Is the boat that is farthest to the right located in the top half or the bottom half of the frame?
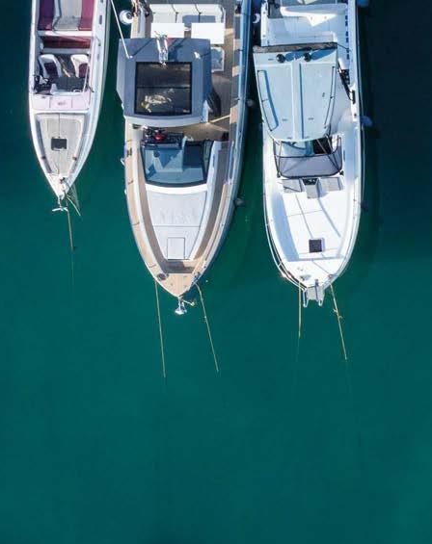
top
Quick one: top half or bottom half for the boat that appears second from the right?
top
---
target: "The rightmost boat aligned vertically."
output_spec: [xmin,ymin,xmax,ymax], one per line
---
[254,0,363,306]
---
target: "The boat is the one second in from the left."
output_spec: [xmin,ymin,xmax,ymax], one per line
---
[111,0,252,314]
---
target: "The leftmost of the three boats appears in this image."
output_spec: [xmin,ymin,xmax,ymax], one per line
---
[29,0,112,211]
